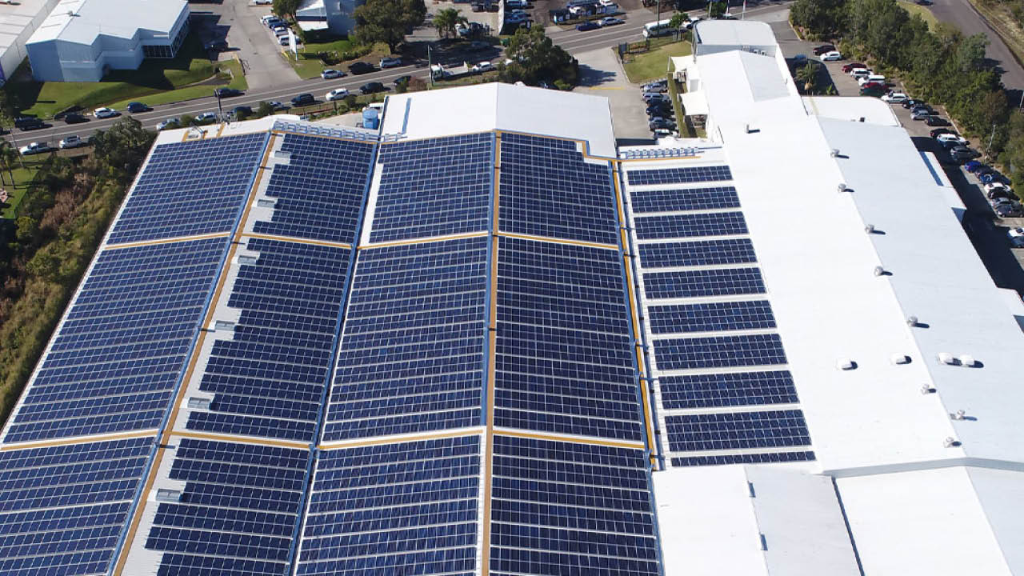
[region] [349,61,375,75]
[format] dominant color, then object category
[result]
black car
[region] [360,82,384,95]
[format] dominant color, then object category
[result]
black vehicle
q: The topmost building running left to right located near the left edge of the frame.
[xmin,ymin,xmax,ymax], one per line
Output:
[23,0,210,77]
